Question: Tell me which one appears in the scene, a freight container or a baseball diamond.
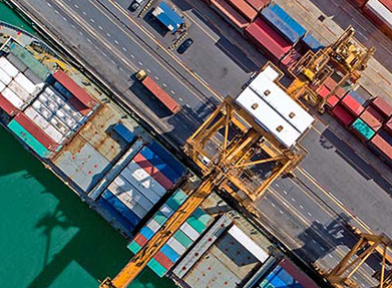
freight container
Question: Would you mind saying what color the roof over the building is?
blue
